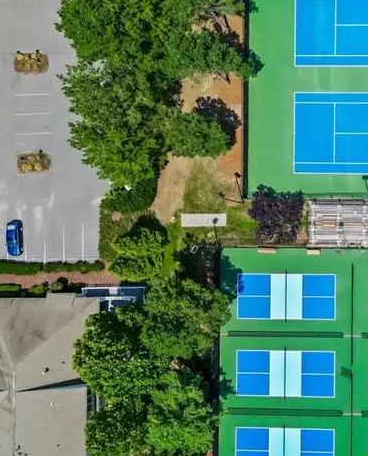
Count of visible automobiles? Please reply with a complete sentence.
The count comes to 1 automobile.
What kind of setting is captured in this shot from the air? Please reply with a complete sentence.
What you see here is a sports ground.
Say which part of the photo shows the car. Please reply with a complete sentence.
The car appears toward the left of the photo.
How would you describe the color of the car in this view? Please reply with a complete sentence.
The car is blue.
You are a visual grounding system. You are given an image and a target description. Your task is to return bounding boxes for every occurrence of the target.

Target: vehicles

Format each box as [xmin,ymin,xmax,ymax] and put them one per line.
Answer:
[7,221,27,256]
